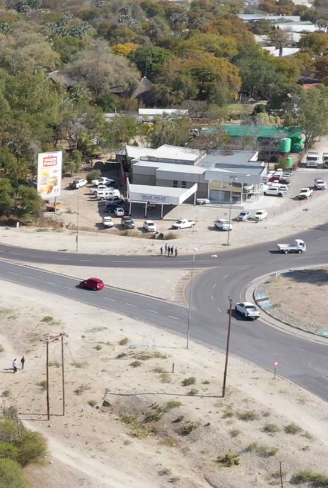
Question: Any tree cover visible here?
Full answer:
Yes, there's tree cover in this view.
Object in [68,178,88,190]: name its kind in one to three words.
vehicle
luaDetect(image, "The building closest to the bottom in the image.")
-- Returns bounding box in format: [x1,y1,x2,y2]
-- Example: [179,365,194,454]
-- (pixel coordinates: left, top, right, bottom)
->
[139,148,274,206]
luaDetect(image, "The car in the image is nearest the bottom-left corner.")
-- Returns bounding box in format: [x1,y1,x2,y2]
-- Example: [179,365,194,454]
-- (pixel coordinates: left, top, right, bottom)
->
[78,280,106,296]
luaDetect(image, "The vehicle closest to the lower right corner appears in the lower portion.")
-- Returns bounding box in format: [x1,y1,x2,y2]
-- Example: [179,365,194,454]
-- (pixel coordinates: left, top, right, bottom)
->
[233,304,260,322]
